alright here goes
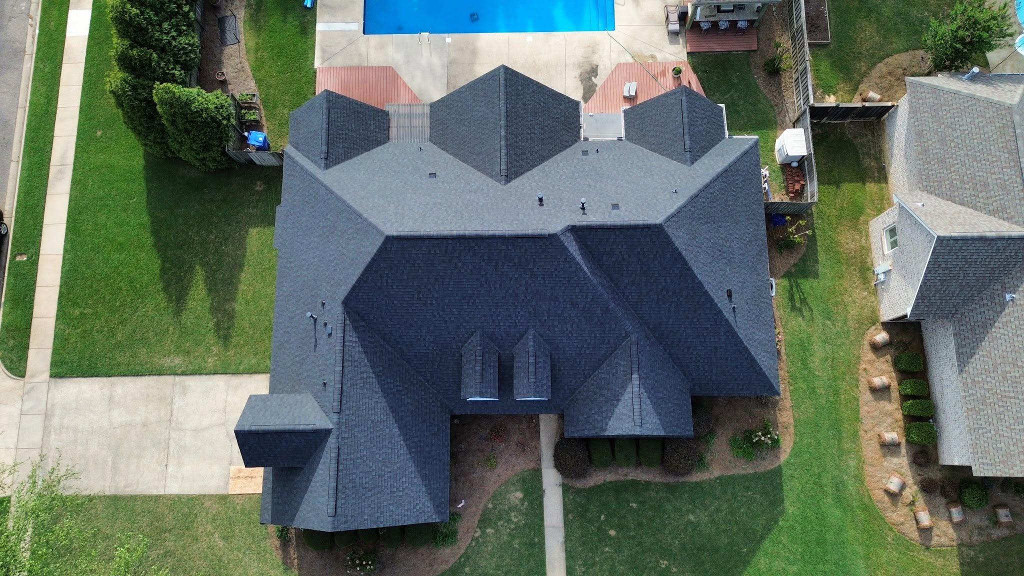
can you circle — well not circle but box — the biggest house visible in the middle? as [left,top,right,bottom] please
[232,65,782,532]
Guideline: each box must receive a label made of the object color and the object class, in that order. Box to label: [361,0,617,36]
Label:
blue swimming pool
